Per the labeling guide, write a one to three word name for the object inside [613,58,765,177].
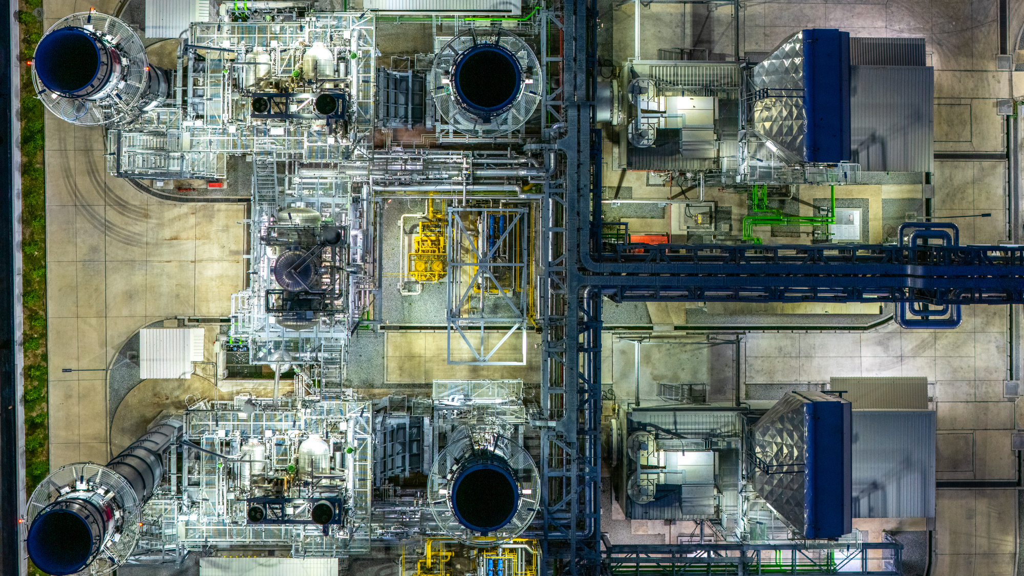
house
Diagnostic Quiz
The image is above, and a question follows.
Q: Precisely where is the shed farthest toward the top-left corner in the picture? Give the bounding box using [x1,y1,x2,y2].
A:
[145,0,214,41]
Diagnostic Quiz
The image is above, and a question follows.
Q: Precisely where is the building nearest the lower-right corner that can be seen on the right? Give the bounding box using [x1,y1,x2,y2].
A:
[851,406,935,517]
